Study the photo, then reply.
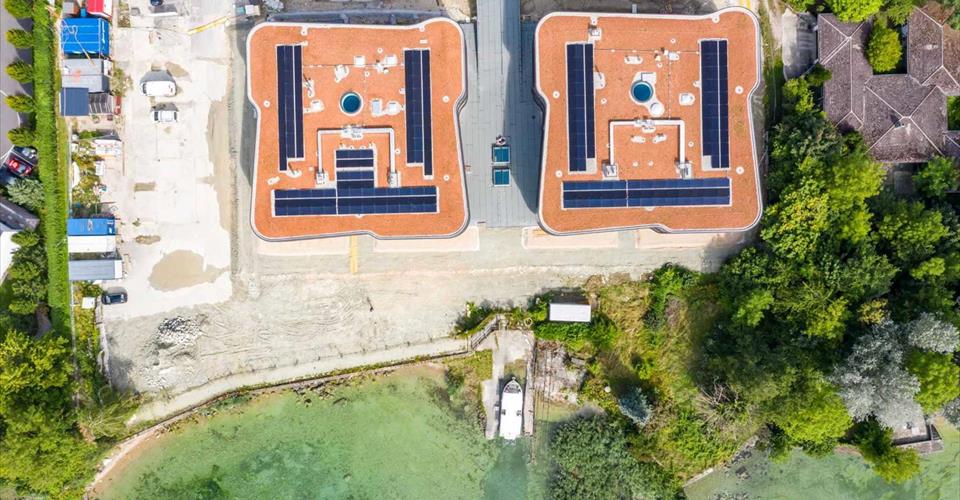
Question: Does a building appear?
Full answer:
Yes, this view includes a building.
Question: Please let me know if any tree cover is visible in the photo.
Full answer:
Yes, tree cover shows up in the scene.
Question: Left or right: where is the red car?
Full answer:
The red car is on the left side of the image.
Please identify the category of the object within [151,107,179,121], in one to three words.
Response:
car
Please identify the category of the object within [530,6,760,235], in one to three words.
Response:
building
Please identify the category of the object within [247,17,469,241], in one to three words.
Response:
building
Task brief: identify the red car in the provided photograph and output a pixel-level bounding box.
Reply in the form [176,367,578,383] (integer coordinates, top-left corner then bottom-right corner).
[5,156,34,176]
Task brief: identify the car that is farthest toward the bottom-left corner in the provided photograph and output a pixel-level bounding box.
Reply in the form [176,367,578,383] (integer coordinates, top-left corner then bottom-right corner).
[100,291,128,305]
